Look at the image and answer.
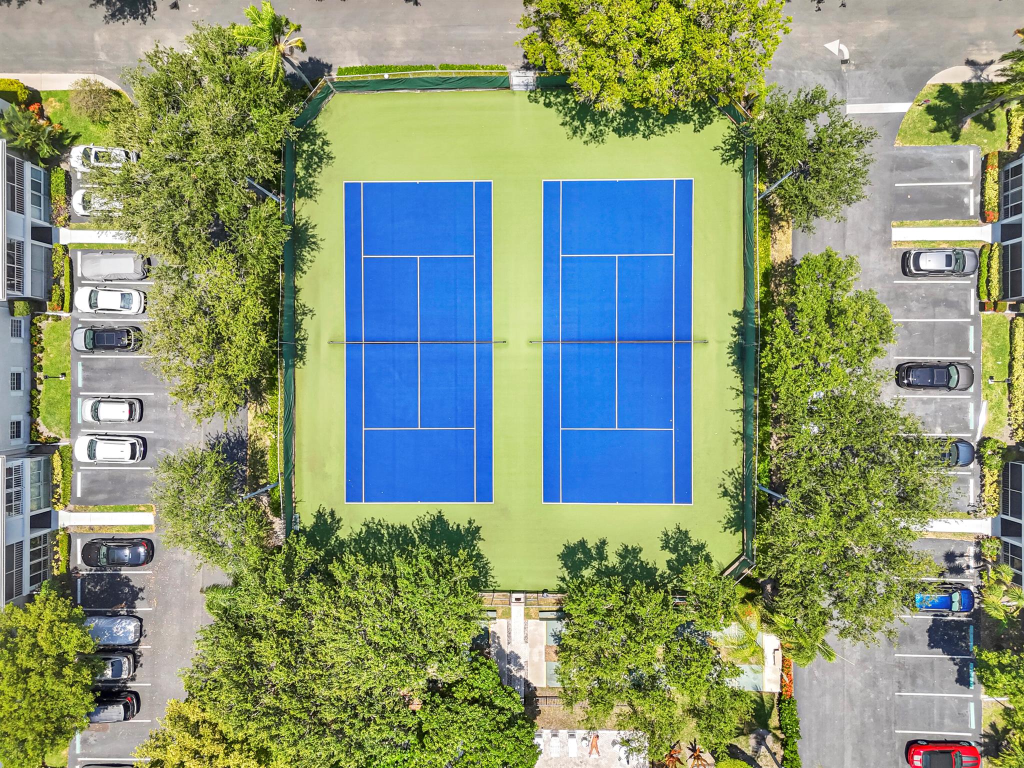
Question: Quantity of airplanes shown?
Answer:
0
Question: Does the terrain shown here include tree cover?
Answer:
Yes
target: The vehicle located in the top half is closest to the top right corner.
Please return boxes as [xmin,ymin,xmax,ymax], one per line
[904,246,975,278]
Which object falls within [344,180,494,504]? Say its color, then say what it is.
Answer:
blue tennis court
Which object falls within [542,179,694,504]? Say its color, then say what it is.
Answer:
blue tennis court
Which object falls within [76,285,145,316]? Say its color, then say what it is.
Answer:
white car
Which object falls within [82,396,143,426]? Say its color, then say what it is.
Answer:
white car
